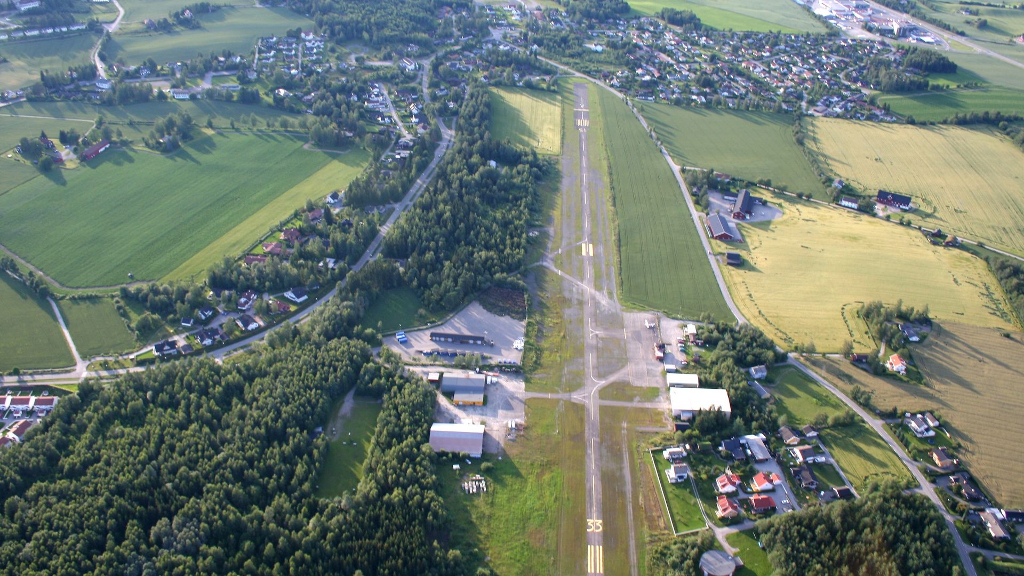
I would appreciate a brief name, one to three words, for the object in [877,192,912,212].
barn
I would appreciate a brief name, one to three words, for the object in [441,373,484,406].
building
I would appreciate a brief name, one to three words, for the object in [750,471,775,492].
house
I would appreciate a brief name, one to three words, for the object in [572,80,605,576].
runway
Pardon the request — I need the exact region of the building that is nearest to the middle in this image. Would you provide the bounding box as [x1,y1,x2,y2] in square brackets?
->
[430,333,485,346]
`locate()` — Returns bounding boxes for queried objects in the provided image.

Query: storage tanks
[699,548,748,576]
